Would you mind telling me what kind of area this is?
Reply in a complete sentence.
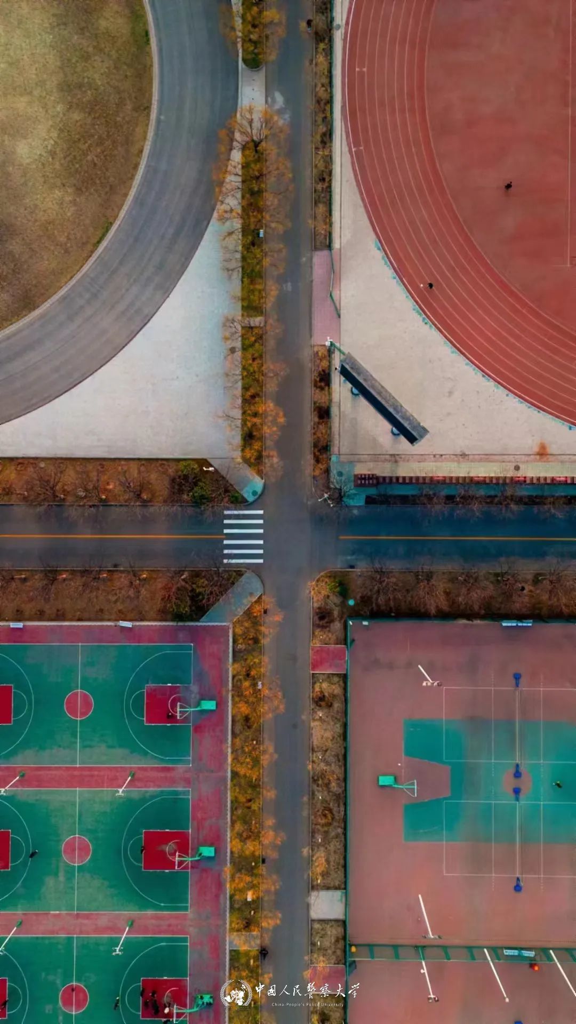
What you see here is a sports ground.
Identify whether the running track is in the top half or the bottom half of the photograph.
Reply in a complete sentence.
The top half of the photo is where the running track is.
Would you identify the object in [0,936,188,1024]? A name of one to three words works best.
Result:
basketball court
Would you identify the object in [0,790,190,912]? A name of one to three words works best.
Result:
basketball court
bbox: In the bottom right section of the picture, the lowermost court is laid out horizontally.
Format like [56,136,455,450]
[346,947,576,1024]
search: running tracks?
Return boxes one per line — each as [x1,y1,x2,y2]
[342,0,576,425]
